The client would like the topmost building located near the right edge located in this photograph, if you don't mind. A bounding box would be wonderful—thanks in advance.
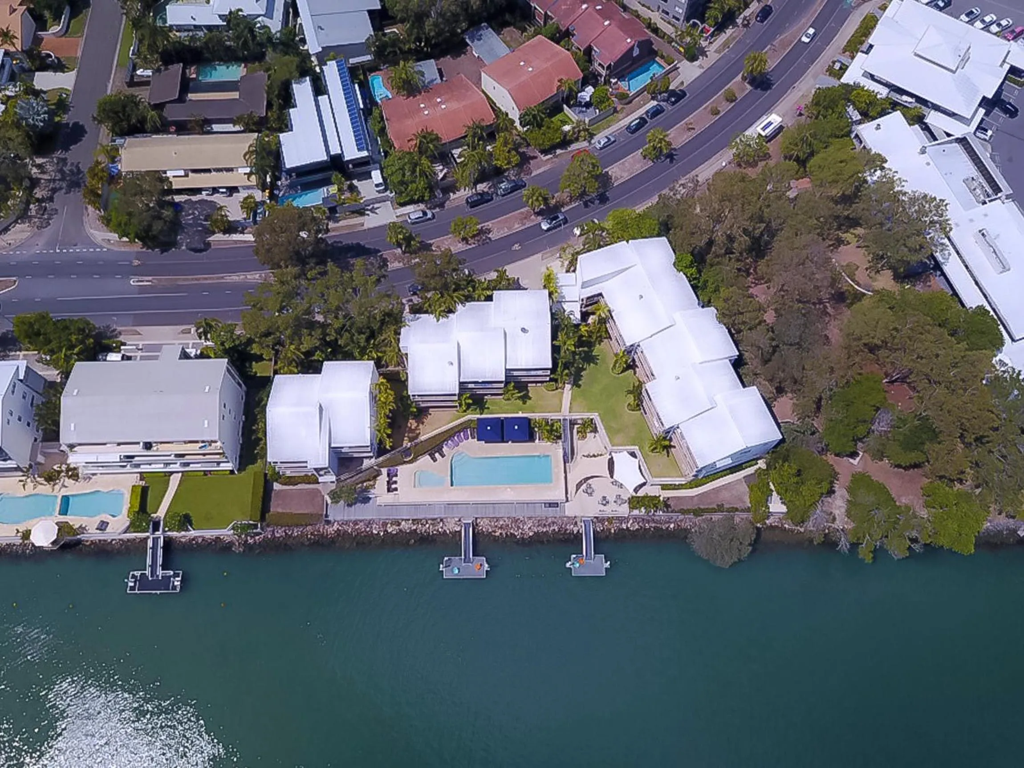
[840,0,1024,136]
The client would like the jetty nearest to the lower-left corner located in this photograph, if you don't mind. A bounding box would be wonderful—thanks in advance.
[121,528,183,593]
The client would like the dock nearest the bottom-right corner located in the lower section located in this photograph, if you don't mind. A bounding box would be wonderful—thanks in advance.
[566,512,610,576]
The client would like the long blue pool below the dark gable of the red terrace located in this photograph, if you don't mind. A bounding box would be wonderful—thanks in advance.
[626,58,666,93]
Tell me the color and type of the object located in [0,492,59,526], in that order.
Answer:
blue swimming pool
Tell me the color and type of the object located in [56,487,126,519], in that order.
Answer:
blue swimming pool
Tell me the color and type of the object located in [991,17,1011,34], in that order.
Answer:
white car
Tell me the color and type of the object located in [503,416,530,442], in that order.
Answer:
blue umbrella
